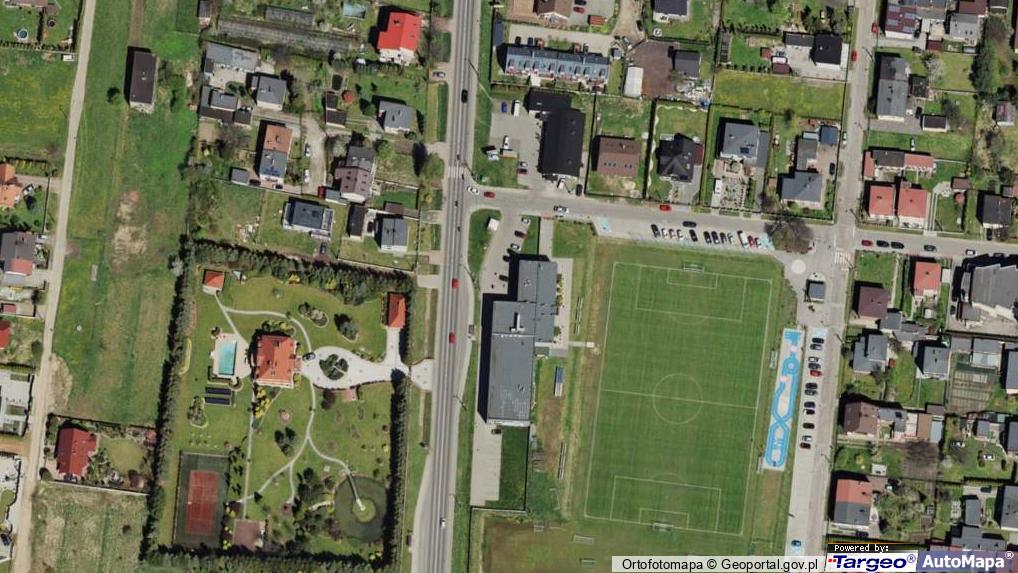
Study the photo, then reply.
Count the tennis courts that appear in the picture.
1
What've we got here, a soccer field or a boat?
soccer field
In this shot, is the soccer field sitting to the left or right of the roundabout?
to its left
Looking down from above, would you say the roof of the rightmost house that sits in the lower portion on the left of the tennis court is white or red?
red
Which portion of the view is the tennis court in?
bottom left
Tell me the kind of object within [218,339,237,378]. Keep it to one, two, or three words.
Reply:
swimming pool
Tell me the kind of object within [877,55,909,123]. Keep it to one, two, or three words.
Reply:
house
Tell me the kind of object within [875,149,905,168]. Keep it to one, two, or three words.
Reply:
shed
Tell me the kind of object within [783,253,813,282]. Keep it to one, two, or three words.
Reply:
roundabout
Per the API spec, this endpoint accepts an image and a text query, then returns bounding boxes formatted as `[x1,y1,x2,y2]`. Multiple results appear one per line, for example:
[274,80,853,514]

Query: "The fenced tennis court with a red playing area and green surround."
[175,453,229,545]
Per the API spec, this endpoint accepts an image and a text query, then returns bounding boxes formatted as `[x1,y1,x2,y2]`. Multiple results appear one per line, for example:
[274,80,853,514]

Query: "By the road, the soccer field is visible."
[582,260,776,539]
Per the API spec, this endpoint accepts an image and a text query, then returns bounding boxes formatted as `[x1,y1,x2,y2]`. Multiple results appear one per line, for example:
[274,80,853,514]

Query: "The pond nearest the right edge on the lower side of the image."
[333,475,388,542]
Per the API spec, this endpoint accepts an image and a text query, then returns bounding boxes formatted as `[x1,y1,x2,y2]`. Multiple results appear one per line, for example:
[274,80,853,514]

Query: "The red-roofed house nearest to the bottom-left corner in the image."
[56,427,99,477]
